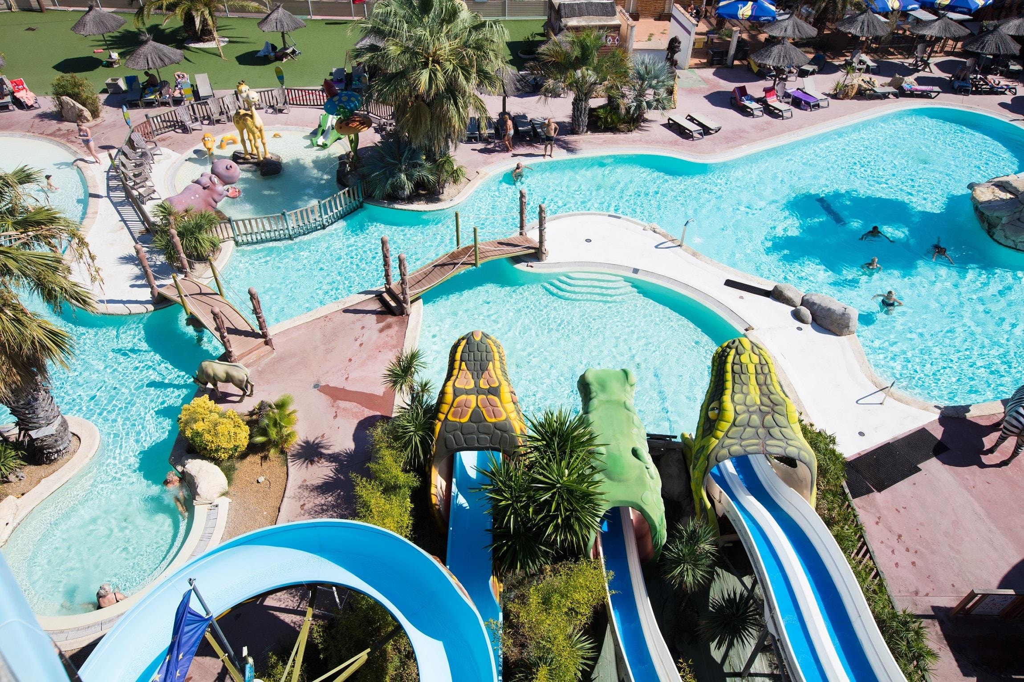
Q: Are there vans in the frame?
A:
No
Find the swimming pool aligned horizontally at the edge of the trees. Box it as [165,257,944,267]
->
[0,109,1024,615]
